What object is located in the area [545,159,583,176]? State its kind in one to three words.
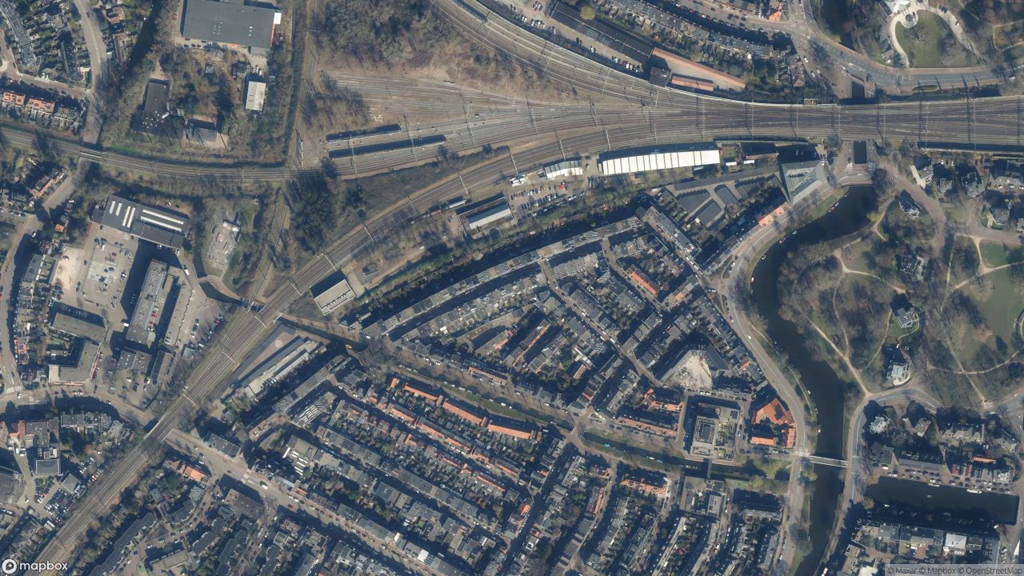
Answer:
shed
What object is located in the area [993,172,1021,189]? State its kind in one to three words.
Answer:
house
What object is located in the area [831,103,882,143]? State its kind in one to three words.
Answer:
bridge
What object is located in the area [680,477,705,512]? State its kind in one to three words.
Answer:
building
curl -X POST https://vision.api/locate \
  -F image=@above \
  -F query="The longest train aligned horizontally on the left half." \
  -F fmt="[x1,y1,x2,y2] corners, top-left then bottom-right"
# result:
[333,139,443,158]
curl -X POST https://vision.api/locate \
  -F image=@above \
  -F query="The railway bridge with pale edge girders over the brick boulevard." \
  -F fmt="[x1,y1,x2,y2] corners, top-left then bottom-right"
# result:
[126,405,199,455]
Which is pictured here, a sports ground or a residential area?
residential area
